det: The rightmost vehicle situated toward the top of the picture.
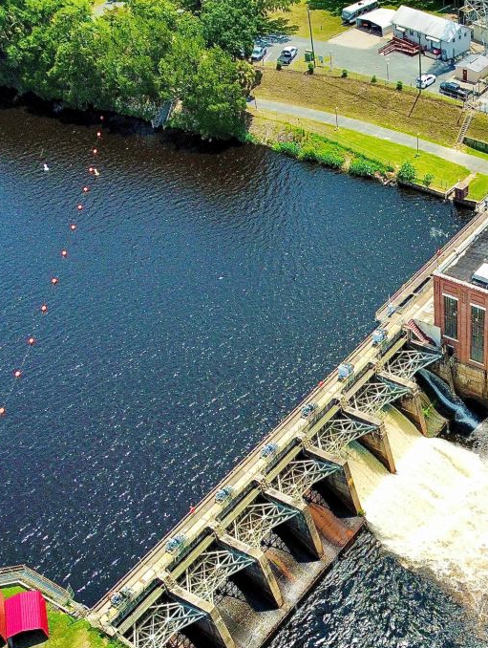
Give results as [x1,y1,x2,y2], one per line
[442,82,467,96]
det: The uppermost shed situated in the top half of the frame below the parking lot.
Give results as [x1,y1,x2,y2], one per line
[448,183,474,211]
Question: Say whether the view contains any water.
Yes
